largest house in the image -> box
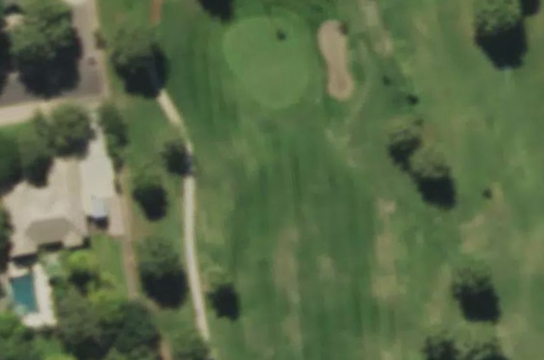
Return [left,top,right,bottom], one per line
[2,156,88,258]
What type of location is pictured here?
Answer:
golf course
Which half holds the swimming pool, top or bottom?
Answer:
bottom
